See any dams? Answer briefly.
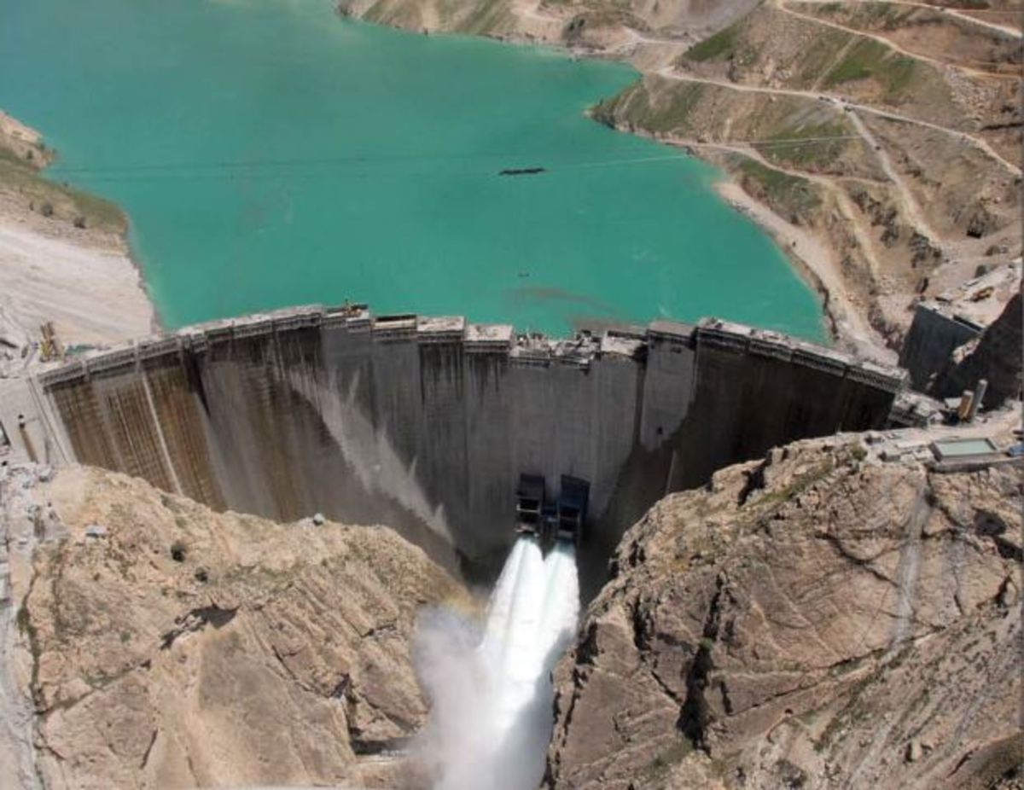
Yes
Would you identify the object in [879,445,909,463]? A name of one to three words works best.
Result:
building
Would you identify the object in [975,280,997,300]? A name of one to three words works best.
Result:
work vehicle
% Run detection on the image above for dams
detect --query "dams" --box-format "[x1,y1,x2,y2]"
[35,302,910,597]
